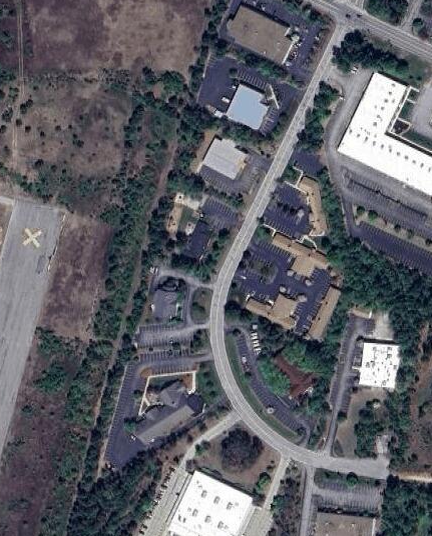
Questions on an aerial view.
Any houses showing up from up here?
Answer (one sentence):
Yes, I can see a house in this picture.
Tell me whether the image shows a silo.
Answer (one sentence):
No, this view has no silo in it.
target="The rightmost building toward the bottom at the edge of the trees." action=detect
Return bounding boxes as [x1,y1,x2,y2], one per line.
[359,343,400,389]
